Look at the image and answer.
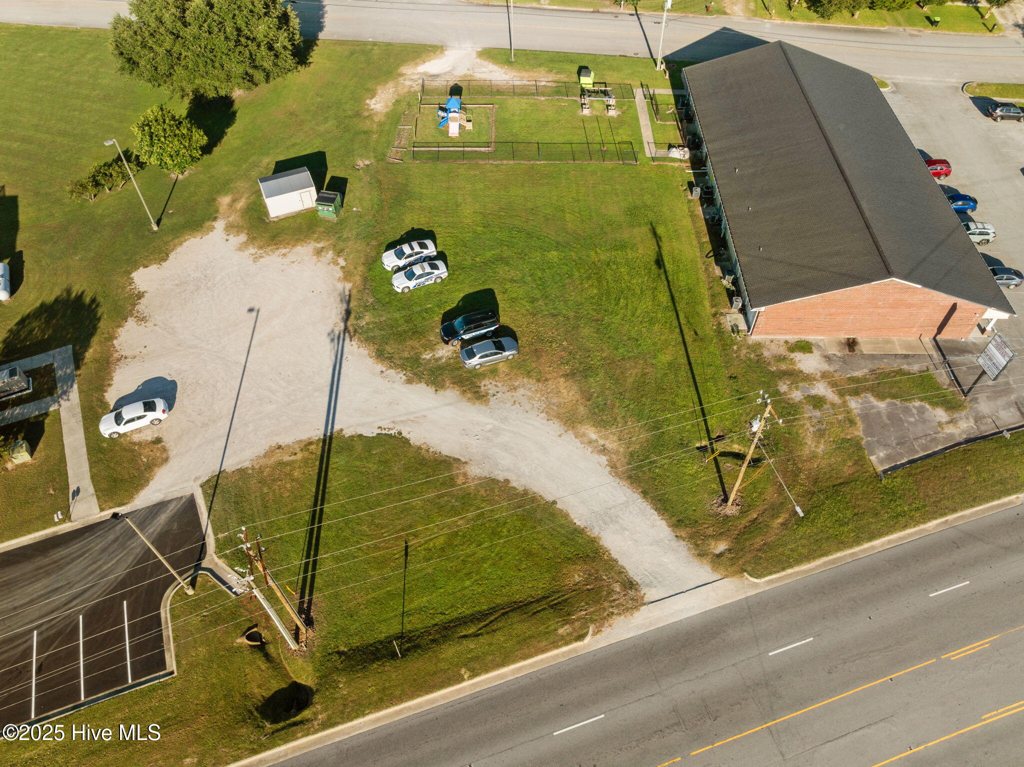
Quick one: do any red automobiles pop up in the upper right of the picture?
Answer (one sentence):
Yes, a red automobile can be seen in the upper right of the picture.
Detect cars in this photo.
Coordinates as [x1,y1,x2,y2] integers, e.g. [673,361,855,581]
[439,309,499,346]
[942,194,980,214]
[459,338,519,369]
[391,262,447,293]
[381,242,436,271]
[986,268,1024,290]
[97,399,168,439]
[960,223,995,247]
[986,102,1024,123]
[920,160,953,182]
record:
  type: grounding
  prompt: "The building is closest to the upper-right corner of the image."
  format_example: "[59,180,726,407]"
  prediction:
[683,41,1015,342]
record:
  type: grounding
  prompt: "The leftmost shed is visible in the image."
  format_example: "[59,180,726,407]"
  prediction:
[258,171,317,220]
